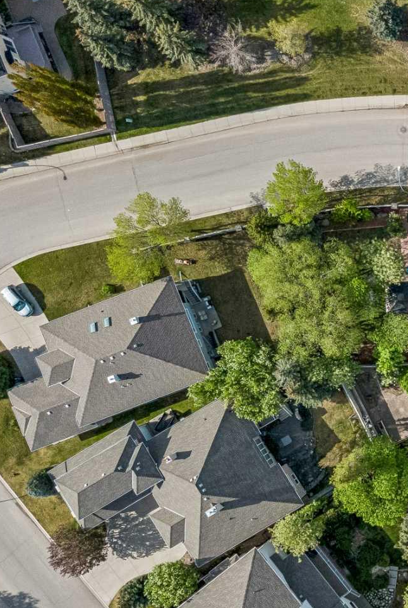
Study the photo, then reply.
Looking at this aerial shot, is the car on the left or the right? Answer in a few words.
left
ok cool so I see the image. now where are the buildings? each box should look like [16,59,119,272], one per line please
[0,0,31,108]
[7,276,209,452]
[46,401,311,569]
[178,535,364,608]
